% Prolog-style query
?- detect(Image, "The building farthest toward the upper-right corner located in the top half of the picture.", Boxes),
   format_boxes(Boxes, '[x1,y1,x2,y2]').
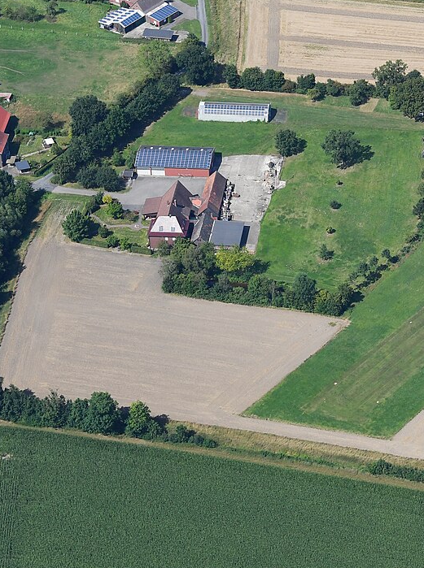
[197,102,270,122]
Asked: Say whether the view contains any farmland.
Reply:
Yes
